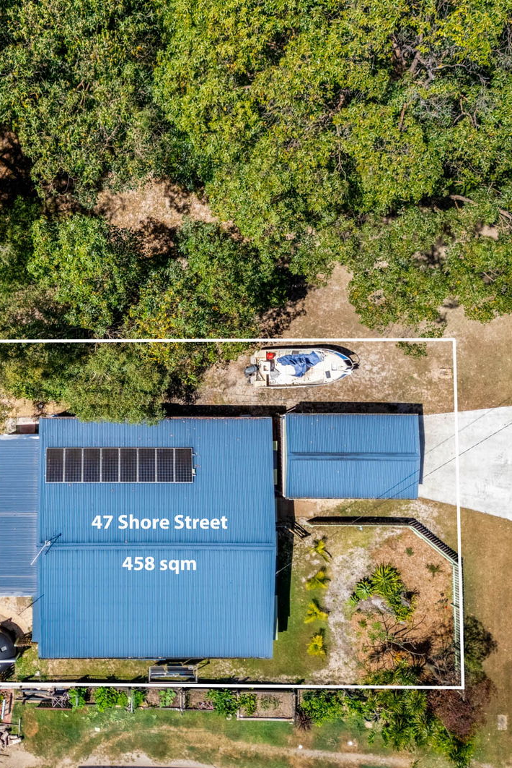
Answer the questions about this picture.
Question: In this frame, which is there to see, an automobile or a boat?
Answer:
boat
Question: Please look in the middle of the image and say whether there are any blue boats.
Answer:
No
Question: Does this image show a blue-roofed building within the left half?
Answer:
Yes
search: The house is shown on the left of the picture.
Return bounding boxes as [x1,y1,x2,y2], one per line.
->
[0,413,277,662]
